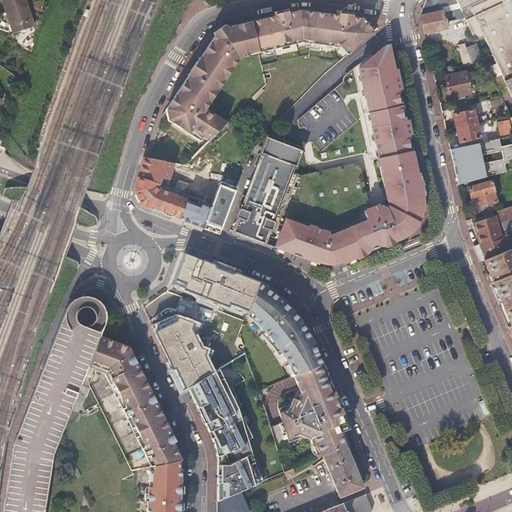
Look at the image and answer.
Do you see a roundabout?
Yes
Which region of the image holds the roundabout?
left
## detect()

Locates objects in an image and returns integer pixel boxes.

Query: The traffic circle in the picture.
[98,227,164,294]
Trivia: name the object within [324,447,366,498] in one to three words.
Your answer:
building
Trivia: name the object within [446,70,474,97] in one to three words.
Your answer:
house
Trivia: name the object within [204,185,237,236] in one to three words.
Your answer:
building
